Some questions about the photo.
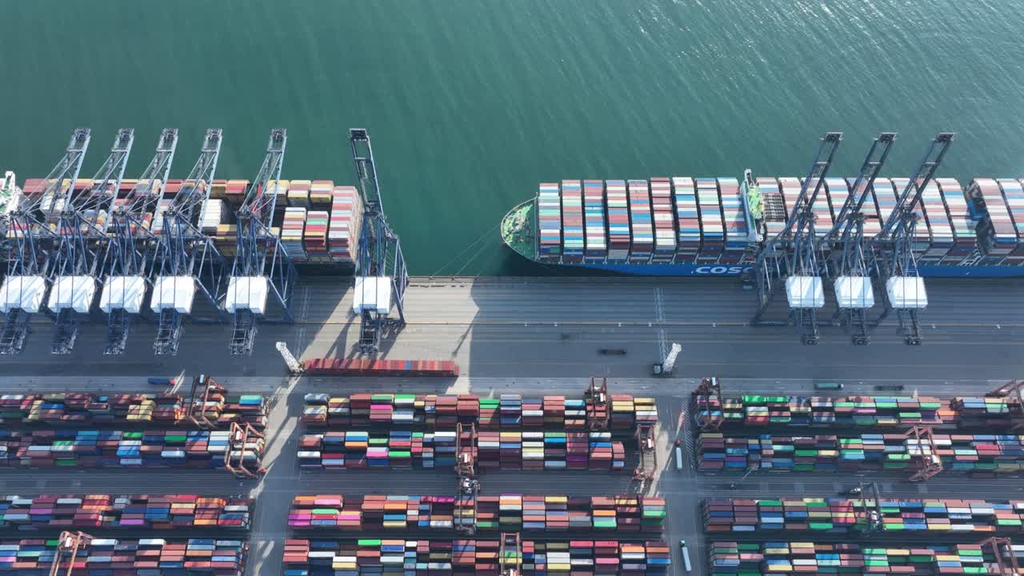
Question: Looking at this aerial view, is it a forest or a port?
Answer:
port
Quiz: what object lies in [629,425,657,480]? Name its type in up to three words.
container crane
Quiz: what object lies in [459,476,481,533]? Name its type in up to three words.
container crane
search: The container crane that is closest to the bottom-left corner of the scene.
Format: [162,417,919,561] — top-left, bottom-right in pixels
[54,532,104,576]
